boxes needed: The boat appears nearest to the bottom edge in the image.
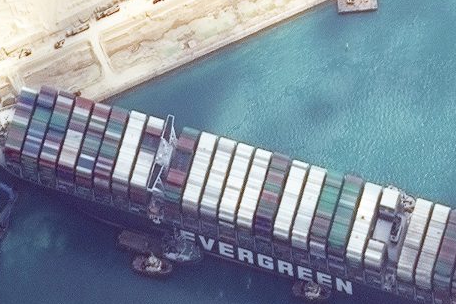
[291,282,332,304]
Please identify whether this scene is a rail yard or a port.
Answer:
port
